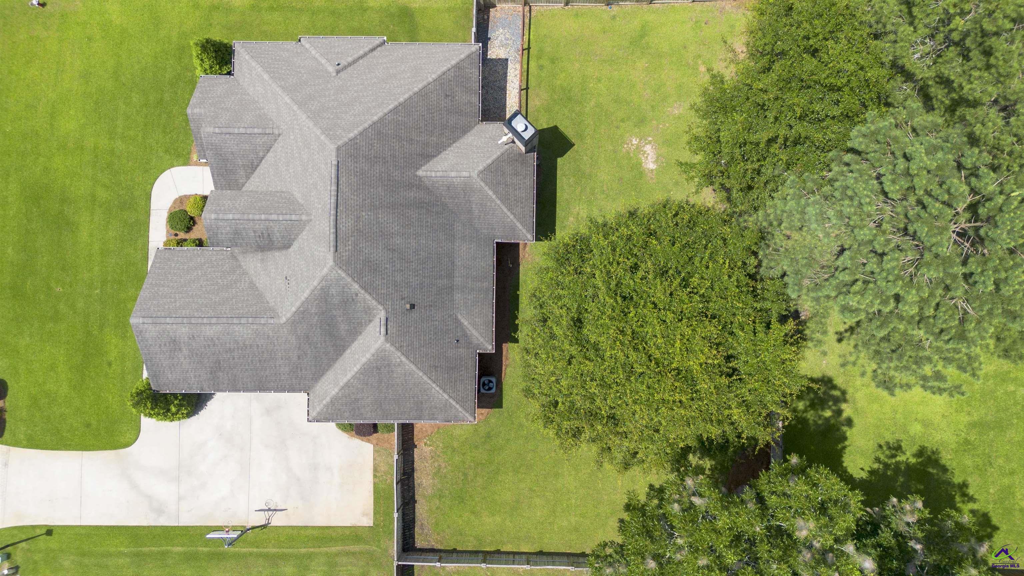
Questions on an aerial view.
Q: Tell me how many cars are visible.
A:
0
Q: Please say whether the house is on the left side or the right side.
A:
left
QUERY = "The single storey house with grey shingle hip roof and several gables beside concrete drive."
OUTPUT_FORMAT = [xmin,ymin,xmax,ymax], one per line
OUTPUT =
[131,35,539,423]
